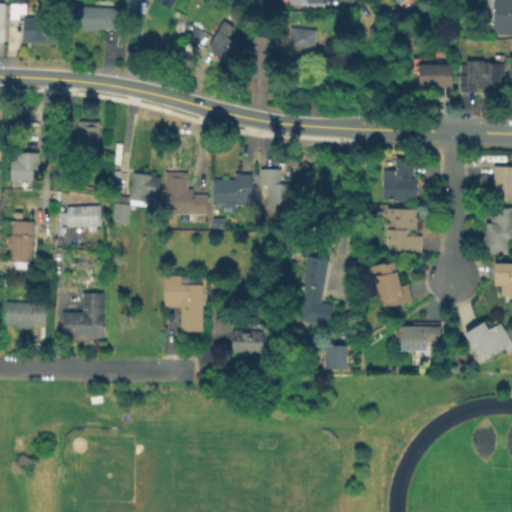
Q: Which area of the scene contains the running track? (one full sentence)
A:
The running track appears toward the bottom right of the photo.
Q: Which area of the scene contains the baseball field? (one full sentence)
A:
The baseball field appears toward the bottom left of the photo.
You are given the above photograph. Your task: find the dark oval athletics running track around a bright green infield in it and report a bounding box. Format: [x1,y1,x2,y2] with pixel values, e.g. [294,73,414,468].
[388,395,512,512]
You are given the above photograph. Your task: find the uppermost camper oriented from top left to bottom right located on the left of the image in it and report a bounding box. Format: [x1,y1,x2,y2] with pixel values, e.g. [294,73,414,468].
[191,18,206,32]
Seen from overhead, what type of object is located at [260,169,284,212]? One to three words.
house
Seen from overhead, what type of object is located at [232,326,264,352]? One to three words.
house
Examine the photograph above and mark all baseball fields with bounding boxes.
[66,434,144,512]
